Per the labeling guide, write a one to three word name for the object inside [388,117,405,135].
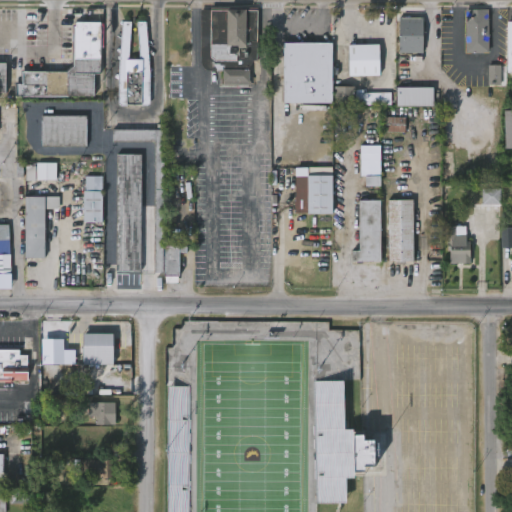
shed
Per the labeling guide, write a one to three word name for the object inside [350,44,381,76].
building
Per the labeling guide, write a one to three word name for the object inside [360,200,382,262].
building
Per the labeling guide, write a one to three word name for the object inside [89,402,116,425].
house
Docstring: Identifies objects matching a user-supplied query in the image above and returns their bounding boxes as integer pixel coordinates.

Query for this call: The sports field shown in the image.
[197,341,308,512]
